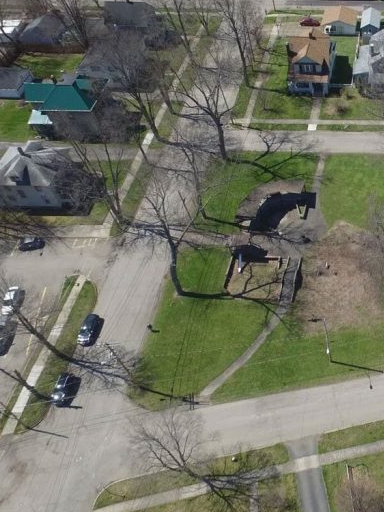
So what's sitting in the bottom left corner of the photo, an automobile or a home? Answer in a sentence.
The feature located in the bottom left corner of the photo is an automobile.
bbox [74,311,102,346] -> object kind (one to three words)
car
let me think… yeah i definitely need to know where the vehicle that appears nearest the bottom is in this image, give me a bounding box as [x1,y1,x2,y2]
[47,371,76,407]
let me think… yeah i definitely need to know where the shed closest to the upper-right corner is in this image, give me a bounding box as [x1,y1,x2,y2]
[361,8,381,39]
